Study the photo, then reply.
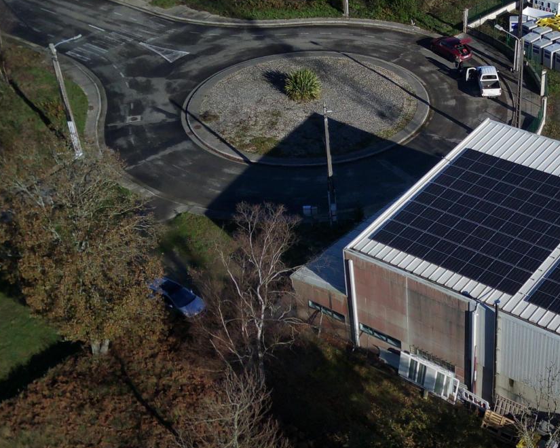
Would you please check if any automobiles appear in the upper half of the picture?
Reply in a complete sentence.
Yes, an automobile shows up in the upper half of the picture.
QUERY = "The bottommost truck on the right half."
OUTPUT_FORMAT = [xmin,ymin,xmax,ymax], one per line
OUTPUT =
[472,61,502,93]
